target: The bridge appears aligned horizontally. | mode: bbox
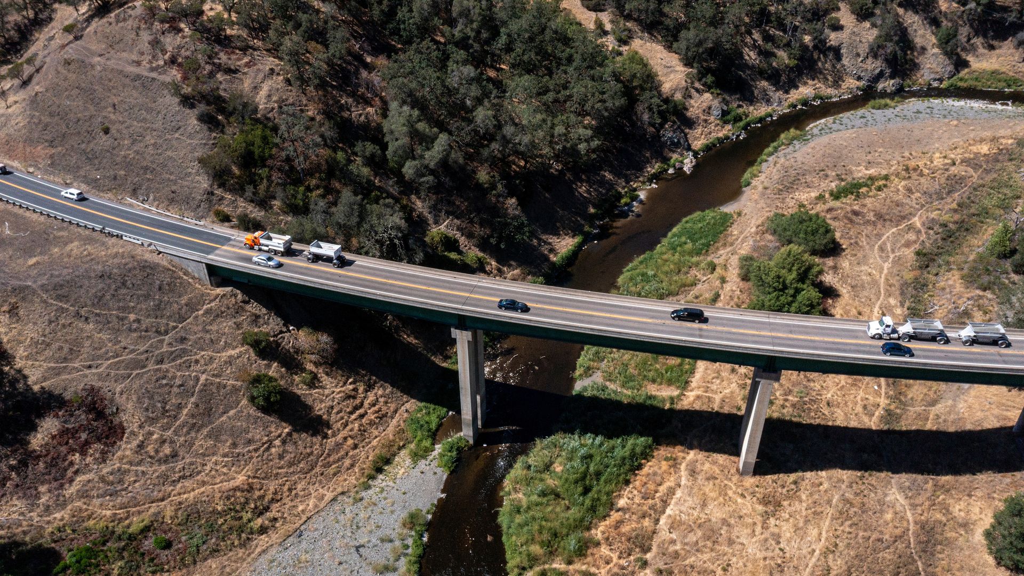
[145,221,1024,470]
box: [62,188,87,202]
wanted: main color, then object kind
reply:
white car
